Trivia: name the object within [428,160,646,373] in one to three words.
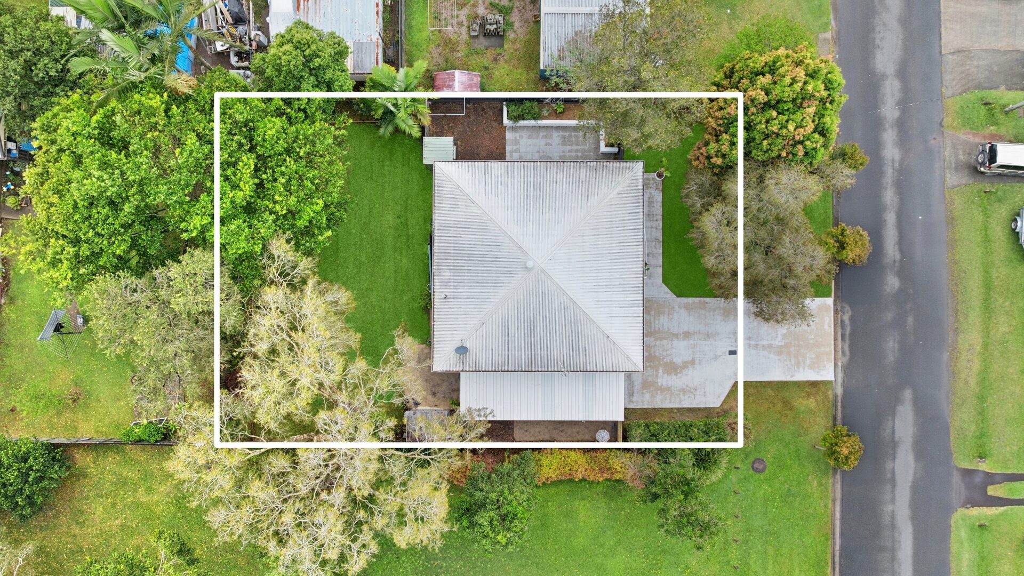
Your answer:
house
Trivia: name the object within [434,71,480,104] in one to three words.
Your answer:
shed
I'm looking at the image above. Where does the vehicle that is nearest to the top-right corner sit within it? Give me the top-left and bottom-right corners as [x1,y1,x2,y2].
[973,142,1024,177]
